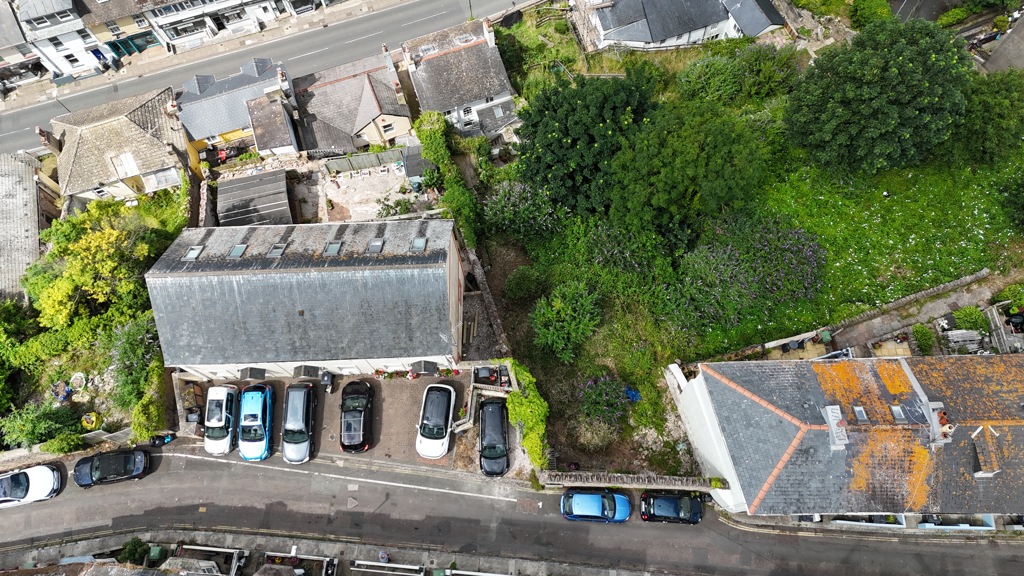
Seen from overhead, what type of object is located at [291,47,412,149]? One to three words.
house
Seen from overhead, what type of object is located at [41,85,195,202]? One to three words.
house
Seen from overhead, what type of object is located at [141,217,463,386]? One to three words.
building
